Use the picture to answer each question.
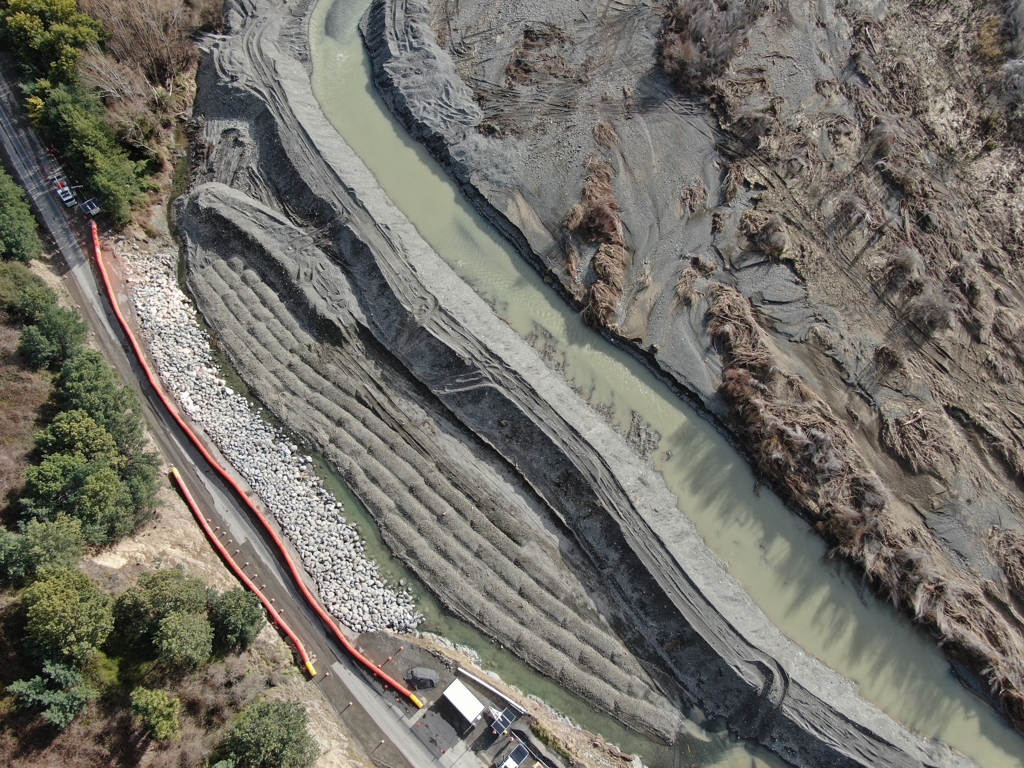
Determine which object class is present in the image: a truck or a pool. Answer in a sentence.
Visible in the photo is a truck.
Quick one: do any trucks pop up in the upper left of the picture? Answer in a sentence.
Yes, in the upper left of the picture there is a truck.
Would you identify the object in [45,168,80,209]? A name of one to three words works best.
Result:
truck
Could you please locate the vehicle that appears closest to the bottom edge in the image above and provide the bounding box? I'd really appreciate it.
[490,741,531,768]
